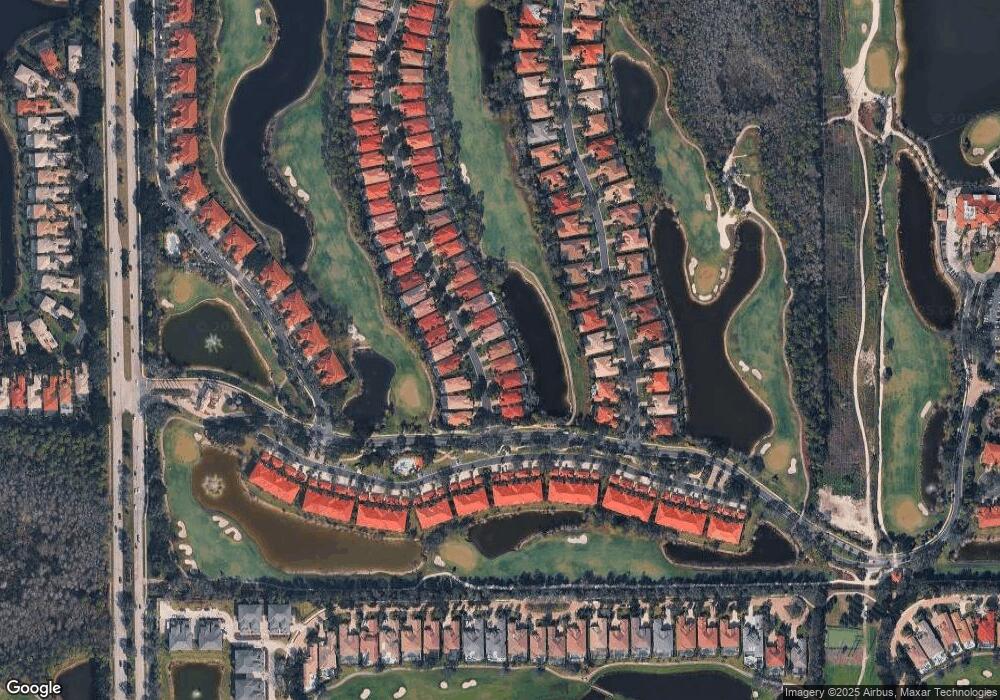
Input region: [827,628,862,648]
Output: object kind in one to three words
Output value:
sports court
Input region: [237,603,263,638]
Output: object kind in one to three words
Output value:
building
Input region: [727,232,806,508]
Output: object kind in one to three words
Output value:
golf course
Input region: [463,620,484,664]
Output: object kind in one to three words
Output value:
house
